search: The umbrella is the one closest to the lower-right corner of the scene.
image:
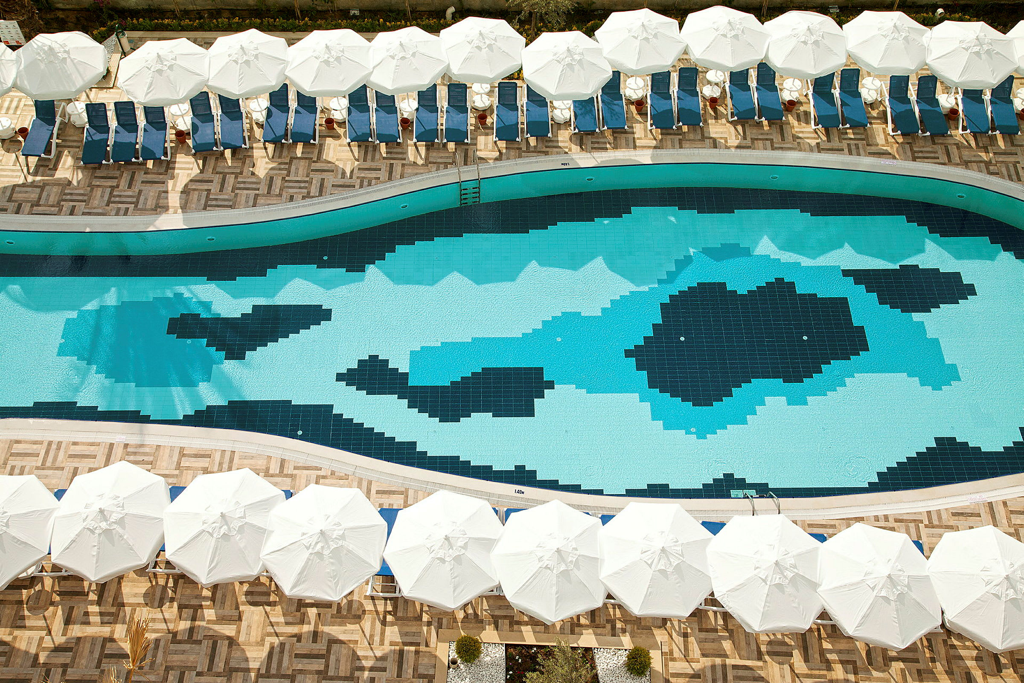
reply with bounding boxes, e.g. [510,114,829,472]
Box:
[930,525,1024,649]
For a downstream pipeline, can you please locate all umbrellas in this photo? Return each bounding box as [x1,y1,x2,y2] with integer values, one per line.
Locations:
[824,524,940,649]
[607,502,718,616]
[363,26,449,123]
[265,483,386,600]
[596,8,687,103]
[284,28,370,125]
[203,28,289,126]
[762,8,852,104]
[712,515,827,632]
[0,463,67,577]
[844,10,933,105]
[522,30,612,125]
[0,43,37,140]
[930,525,1024,649]
[53,462,170,581]
[500,498,615,621]
[119,34,208,132]
[19,31,115,129]
[441,16,525,111]
[383,488,507,609]
[680,5,766,101]
[928,21,1017,117]
[168,466,284,584]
